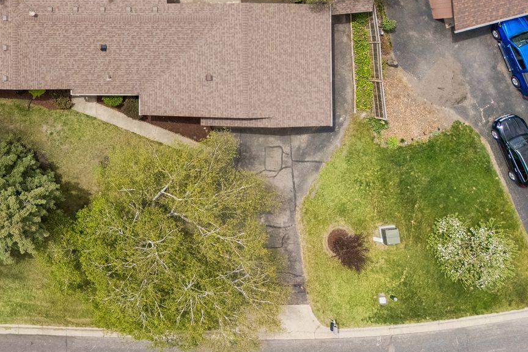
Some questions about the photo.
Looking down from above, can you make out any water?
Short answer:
No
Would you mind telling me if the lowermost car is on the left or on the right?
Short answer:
right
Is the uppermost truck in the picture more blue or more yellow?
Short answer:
blue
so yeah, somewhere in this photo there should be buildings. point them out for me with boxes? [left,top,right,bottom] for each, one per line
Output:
[332,0,375,16]
[0,0,331,127]
[423,0,528,33]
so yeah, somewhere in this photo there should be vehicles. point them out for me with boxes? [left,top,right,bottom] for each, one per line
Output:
[491,114,528,188]
[489,17,528,101]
